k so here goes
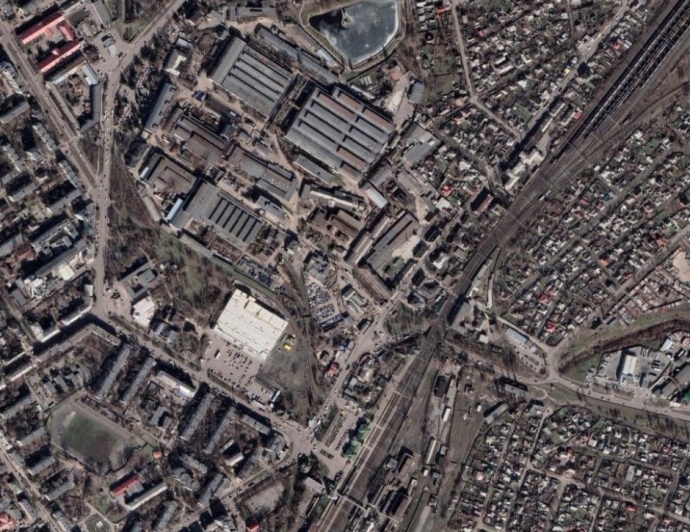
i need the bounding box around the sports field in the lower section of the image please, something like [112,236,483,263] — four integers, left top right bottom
[58,411,119,461]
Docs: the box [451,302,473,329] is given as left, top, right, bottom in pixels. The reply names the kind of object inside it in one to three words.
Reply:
shed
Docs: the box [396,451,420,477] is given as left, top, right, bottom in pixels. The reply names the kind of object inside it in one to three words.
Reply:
shed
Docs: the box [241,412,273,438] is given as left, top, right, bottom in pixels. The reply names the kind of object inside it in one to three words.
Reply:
building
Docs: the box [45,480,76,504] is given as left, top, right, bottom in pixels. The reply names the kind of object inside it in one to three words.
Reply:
building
